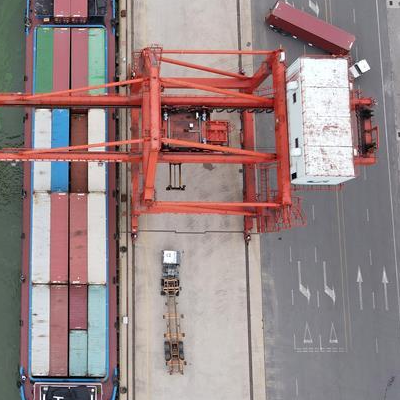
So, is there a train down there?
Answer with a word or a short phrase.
No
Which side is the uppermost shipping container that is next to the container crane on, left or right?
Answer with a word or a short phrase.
right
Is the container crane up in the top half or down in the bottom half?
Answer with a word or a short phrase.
top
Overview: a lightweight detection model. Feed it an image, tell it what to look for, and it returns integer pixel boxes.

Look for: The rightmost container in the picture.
[266,0,356,55]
